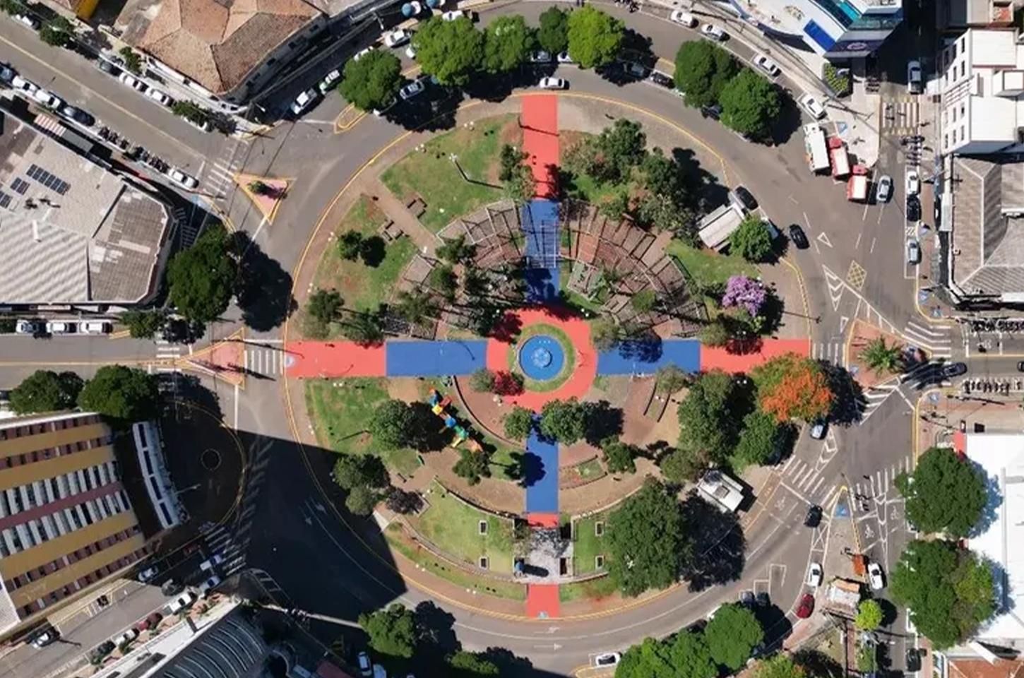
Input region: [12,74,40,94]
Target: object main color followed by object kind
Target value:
white car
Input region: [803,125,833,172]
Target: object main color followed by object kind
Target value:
white truck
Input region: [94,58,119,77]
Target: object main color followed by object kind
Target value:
gray car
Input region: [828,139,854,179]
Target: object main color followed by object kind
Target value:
white truck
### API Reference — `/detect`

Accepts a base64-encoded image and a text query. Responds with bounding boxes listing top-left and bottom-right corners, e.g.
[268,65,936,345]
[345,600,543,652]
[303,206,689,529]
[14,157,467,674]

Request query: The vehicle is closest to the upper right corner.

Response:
[907,62,922,92]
